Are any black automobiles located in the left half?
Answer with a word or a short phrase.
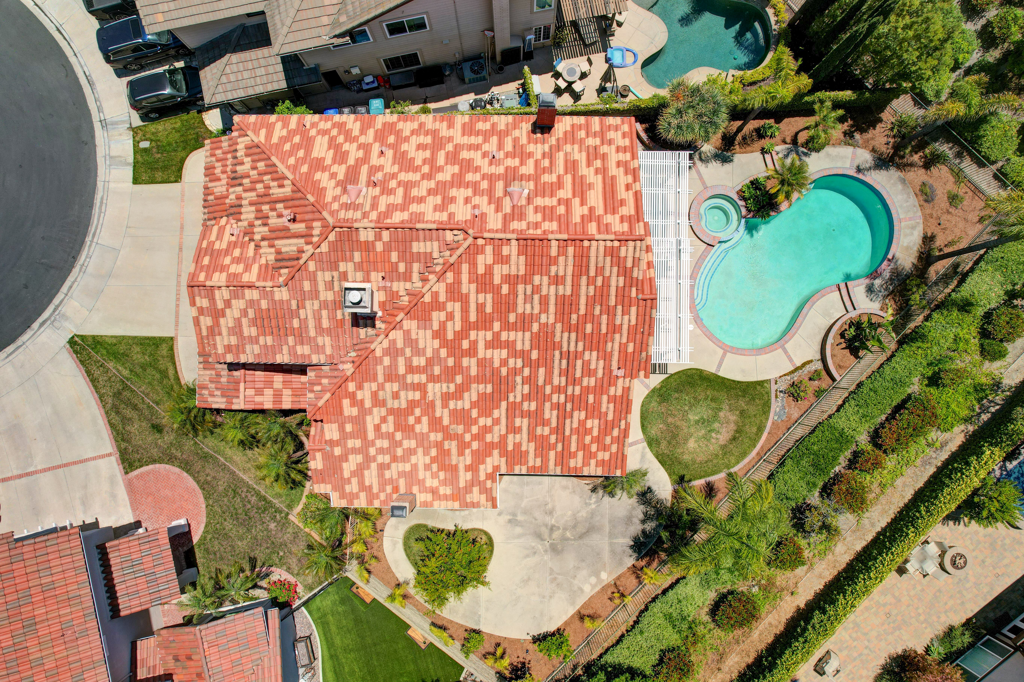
Yes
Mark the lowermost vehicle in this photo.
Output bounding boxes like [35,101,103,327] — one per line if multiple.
[123,63,204,119]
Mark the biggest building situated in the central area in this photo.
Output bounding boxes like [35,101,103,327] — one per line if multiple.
[186,93,658,519]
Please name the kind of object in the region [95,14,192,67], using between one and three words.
car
